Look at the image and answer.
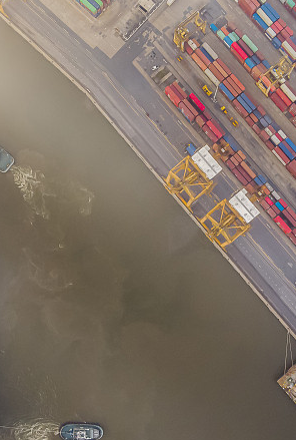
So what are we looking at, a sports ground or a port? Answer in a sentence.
What you see here is a port.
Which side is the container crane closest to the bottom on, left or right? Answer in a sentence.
The container crane closest to the bottom appears in the right half of the scene.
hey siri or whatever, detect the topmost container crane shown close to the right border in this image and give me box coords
[253,59,296,102]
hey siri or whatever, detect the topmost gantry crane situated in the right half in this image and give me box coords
[170,12,208,53]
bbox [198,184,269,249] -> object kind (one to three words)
container crane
